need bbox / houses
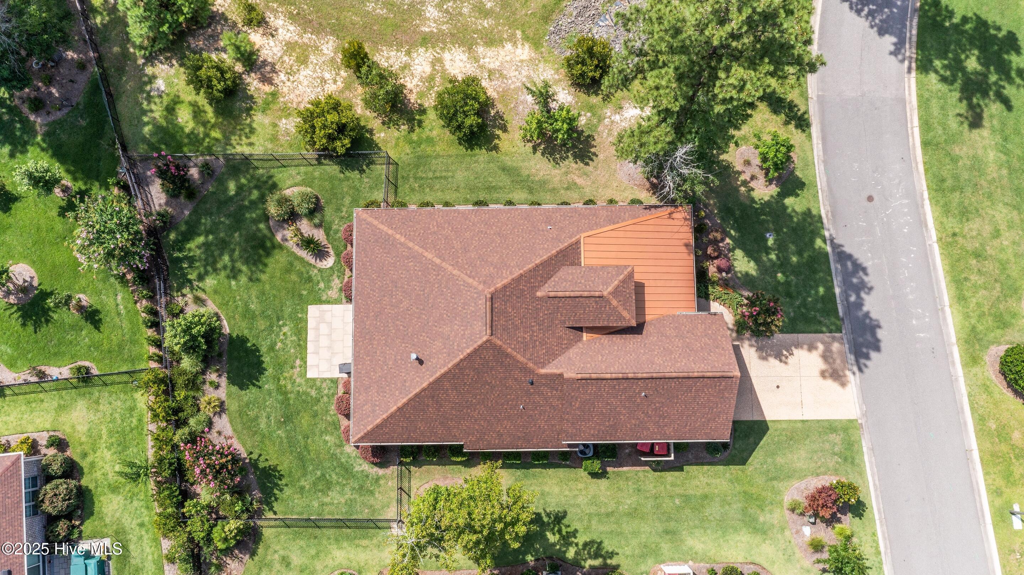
[349,203,739,452]
[0,450,51,575]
